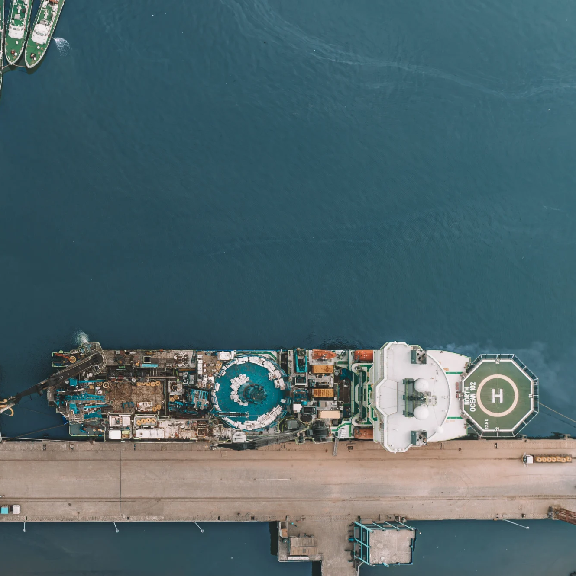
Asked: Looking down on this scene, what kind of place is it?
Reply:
port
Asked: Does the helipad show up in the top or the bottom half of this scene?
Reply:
bottom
